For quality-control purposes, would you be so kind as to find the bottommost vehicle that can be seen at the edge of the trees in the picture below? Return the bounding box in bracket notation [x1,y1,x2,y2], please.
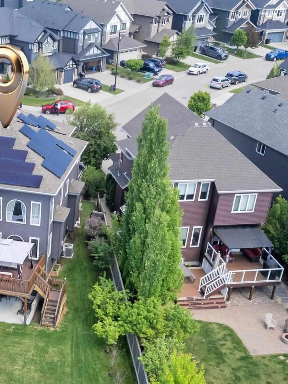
[42,97,74,111]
